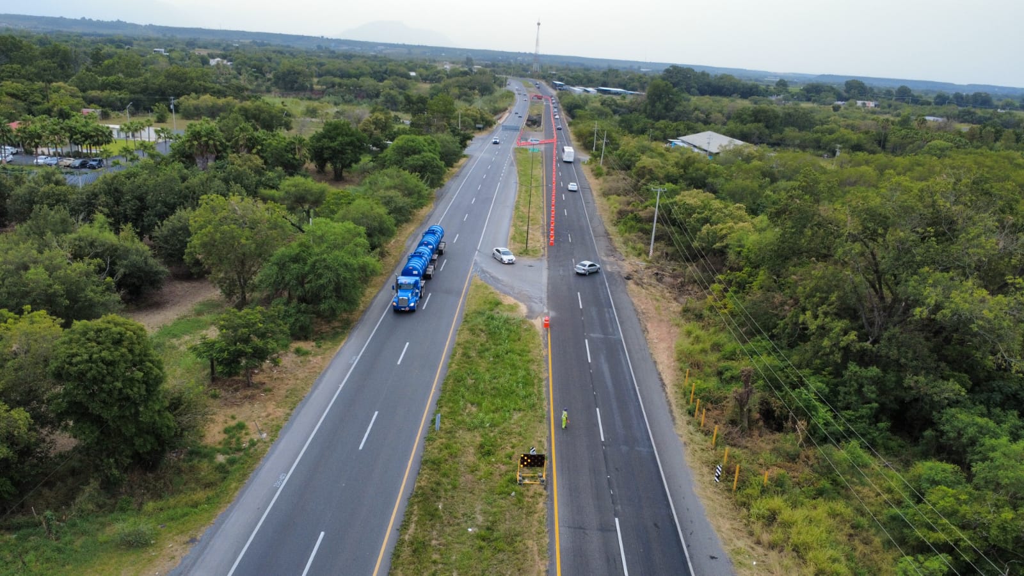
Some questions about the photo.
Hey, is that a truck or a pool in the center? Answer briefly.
truck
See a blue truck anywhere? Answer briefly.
Yes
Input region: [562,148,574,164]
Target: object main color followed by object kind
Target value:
white vehicle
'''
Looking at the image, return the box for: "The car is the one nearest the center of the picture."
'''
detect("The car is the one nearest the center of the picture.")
[494,249,517,265]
